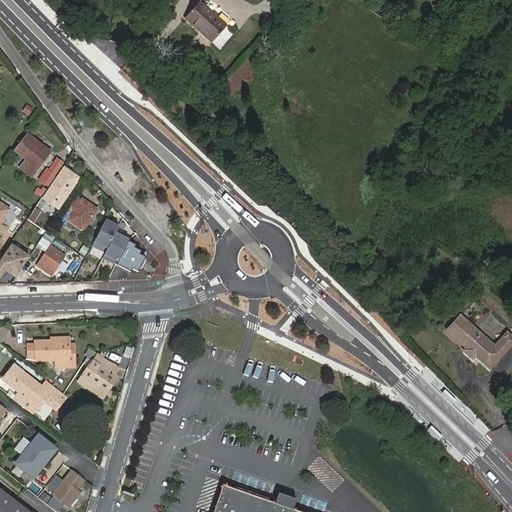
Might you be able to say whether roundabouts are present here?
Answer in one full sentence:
Yes, the photo shows a roundabout.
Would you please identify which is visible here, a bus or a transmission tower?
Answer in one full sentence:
Visible in the photo is a bus.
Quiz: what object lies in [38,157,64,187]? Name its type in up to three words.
house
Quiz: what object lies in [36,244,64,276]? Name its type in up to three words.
house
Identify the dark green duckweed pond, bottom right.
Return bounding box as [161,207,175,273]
[334,424,448,512]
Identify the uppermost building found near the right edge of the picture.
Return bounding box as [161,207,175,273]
[444,314,512,372]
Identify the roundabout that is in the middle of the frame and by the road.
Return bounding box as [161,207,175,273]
[210,216,298,306]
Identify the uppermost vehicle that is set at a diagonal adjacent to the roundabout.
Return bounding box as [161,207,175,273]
[222,192,260,228]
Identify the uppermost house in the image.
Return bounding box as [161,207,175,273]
[184,0,228,42]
